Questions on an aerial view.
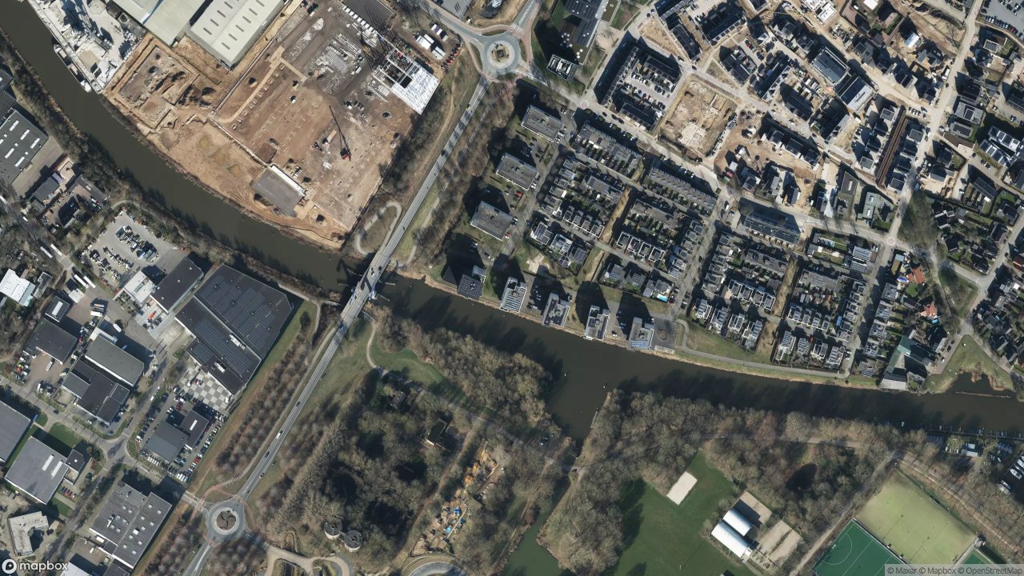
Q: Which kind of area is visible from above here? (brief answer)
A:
residential area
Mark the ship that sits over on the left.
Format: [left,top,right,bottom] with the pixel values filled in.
[54,47,92,94]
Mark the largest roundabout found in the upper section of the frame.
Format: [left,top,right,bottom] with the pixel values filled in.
[479,32,523,75]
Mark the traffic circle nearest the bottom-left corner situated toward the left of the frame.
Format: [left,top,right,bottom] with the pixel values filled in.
[206,500,247,541]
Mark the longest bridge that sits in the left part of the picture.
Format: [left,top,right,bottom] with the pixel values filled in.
[331,256,390,332]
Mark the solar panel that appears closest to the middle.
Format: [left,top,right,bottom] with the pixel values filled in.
[505,293,523,310]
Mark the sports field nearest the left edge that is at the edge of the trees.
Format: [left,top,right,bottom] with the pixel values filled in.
[611,453,760,576]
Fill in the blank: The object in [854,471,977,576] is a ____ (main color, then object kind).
green sports field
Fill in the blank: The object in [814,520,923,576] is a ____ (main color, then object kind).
green sports field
